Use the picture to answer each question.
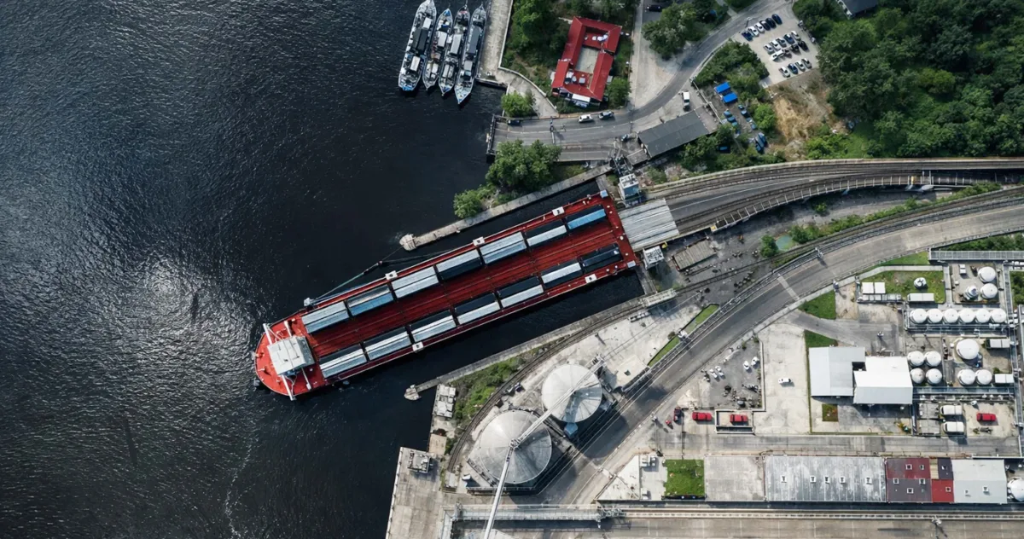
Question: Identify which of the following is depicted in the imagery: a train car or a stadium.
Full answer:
There is a train car in the scene.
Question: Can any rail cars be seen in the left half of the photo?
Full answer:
Yes, looking in the left half of the photo, one can make out a rail car.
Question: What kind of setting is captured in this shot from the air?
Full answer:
The area seen from above is a port.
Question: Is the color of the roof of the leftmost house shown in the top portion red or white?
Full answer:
The color of the roof of the leftmost house shown in the top portion is red.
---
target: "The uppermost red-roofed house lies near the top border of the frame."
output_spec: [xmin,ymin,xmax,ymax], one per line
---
[550,16,622,107]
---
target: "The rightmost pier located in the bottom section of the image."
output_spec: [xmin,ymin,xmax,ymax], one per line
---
[406,294,647,400]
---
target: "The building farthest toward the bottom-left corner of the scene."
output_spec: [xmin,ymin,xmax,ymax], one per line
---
[408,452,433,471]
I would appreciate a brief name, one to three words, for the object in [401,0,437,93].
boat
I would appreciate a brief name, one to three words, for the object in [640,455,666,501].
building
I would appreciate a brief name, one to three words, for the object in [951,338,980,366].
storage tank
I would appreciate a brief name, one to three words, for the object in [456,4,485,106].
boat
